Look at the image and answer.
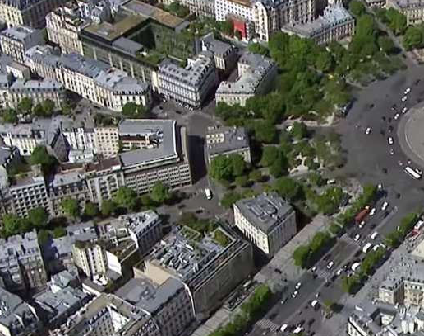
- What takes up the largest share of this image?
buildings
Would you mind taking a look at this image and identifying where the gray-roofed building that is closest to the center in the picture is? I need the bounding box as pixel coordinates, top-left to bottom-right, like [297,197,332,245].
[205,125,252,178]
